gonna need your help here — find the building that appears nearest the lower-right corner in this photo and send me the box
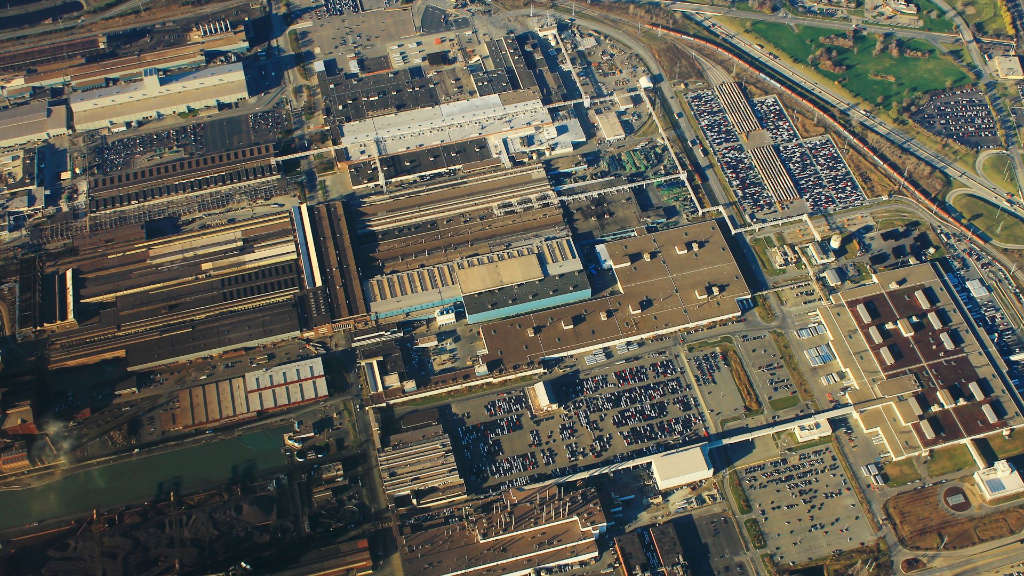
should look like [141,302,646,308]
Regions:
[972,460,1024,500]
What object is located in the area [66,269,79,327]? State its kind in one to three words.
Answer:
house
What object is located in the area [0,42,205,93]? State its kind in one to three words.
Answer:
building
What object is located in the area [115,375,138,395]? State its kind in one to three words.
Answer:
shed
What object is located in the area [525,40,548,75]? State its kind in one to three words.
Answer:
house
